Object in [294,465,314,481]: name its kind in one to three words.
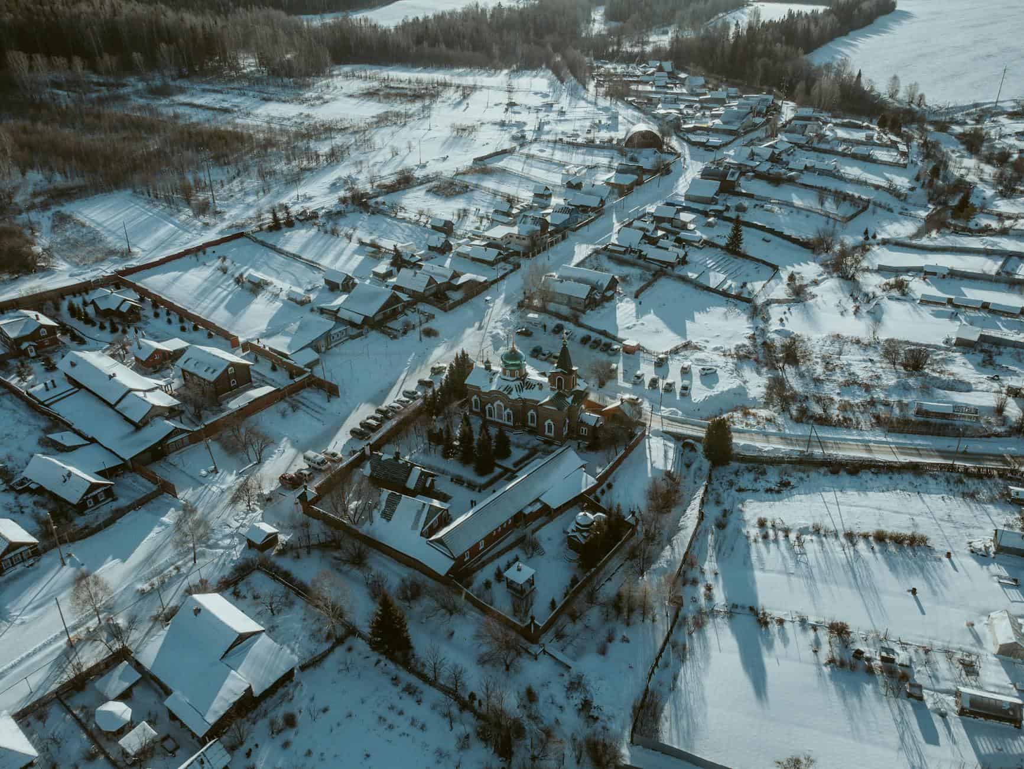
car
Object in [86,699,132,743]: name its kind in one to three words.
gazebo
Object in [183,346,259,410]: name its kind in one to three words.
house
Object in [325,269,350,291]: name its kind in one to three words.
barn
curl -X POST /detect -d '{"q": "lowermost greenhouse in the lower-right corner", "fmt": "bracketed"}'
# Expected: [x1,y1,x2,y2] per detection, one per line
[950,681,1024,737]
